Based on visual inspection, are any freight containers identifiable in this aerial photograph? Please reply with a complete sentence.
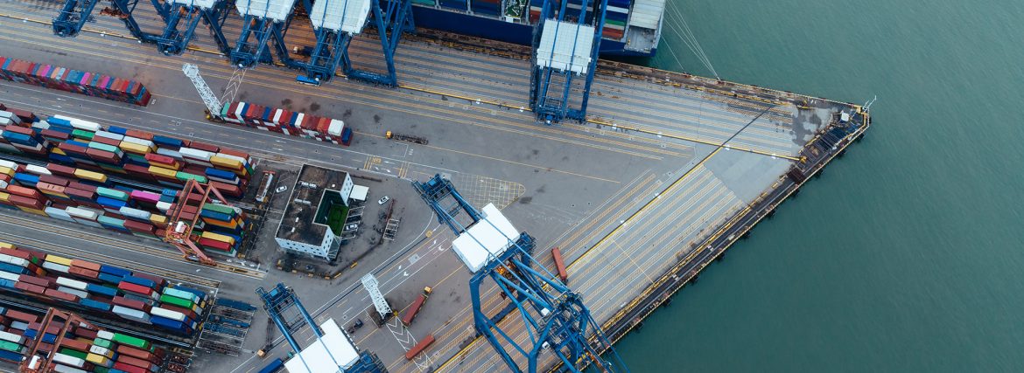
Yes, there's a freight container down there.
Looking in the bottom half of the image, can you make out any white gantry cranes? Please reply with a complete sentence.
Yes, the scene does show a white gantry crane in the bottom half of the image.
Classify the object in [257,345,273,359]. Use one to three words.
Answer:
vehicle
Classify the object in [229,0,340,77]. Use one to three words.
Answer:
container crane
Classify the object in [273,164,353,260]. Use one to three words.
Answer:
building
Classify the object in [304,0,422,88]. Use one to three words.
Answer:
container crane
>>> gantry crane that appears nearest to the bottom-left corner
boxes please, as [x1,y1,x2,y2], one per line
[9,303,108,373]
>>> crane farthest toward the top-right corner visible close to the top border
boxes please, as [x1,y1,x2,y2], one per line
[524,0,610,126]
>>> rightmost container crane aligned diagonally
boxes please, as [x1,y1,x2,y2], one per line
[419,170,636,373]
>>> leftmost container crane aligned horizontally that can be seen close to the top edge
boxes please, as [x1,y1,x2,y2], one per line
[50,0,216,49]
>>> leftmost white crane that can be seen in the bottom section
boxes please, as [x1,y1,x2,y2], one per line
[261,275,392,373]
